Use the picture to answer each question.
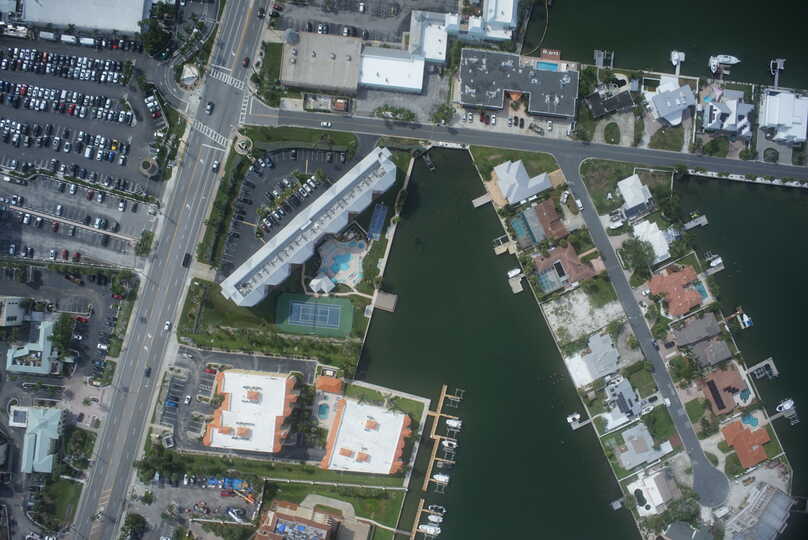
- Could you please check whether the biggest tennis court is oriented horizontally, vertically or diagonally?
horizontally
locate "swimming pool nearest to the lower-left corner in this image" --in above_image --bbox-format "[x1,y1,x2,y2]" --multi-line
[317,403,330,420]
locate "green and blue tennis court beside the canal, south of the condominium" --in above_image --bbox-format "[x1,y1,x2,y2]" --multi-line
[275,293,353,336]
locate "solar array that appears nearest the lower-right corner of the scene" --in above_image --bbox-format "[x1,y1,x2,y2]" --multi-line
[706,379,739,409]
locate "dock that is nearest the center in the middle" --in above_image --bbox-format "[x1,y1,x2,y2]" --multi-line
[374,292,398,312]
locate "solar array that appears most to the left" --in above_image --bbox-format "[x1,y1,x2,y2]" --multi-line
[611,388,634,419]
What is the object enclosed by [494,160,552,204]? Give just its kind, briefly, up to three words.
house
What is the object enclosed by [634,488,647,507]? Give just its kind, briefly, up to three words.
swimming pool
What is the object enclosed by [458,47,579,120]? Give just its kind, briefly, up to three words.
building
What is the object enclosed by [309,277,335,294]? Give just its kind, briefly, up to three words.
gazebo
